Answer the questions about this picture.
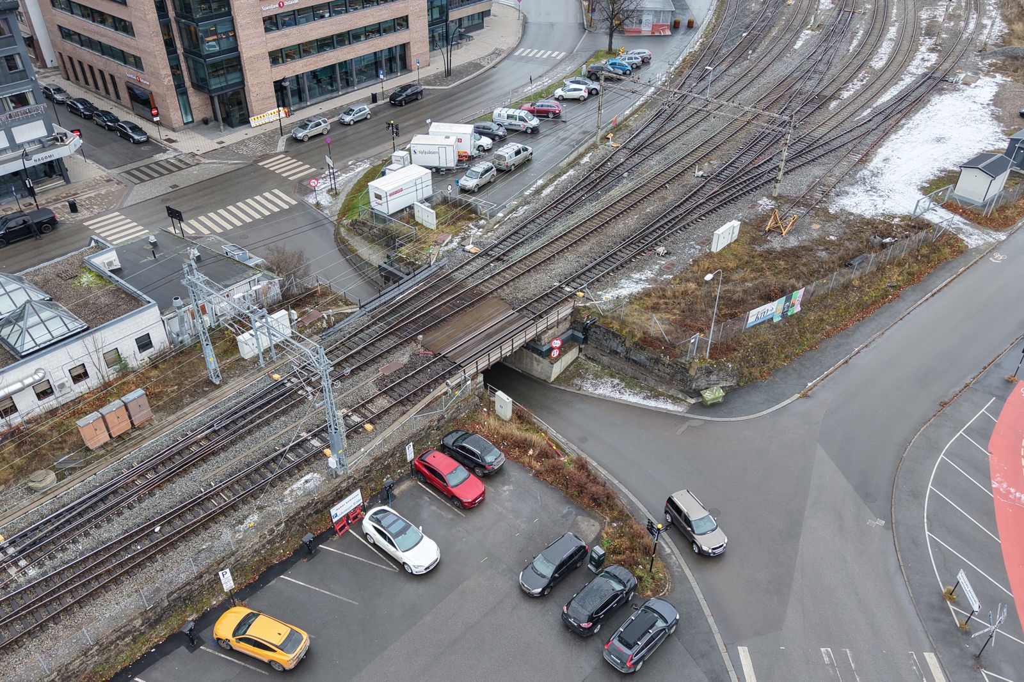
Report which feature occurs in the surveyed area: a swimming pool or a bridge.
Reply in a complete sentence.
The one in the frame is a bridge.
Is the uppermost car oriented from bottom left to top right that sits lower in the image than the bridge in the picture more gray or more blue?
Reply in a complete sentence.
From above, the uppermost car oriented from bottom left to top right that sits lower in the image than the bridge appears gray.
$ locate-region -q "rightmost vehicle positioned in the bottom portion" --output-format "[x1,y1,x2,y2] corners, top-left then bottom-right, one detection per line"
[661,487,729,557]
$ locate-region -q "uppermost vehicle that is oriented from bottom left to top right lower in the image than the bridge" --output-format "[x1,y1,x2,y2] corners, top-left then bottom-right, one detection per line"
[514,528,593,599]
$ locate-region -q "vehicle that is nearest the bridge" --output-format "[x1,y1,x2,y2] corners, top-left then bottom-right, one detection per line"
[440,430,507,476]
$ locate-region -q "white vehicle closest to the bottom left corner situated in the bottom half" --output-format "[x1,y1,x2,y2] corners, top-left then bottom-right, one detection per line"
[358,505,442,576]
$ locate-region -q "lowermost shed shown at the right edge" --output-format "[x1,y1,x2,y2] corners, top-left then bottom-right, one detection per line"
[952,156,1017,211]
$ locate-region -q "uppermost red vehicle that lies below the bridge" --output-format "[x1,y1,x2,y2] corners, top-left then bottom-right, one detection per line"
[412,449,486,509]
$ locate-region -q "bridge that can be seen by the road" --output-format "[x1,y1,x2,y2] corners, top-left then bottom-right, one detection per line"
[319,246,576,426]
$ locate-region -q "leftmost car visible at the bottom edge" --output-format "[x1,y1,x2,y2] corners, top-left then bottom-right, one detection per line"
[214,608,315,673]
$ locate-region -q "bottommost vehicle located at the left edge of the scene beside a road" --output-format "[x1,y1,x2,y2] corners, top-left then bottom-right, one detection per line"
[0,208,60,248]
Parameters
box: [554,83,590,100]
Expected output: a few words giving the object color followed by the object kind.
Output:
white car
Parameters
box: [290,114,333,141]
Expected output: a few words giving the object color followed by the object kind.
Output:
gray car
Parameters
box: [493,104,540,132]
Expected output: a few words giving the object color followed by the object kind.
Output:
white van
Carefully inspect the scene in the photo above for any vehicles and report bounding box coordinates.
[339,102,373,124]
[661,487,729,557]
[491,140,534,171]
[558,563,639,640]
[113,117,147,141]
[587,59,626,78]
[358,505,442,576]
[64,96,97,117]
[290,114,333,141]
[40,82,68,102]
[471,116,510,140]
[493,104,540,132]
[90,107,119,129]
[214,608,315,673]
[0,208,60,248]
[474,130,495,151]
[623,47,655,61]
[567,75,601,93]
[554,83,590,100]
[389,83,423,105]
[458,160,498,191]
[611,56,638,74]
[440,430,507,476]
[514,528,593,599]
[519,98,565,117]
[412,449,486,509]
[607,52,643,65]
[600,595,683,677]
